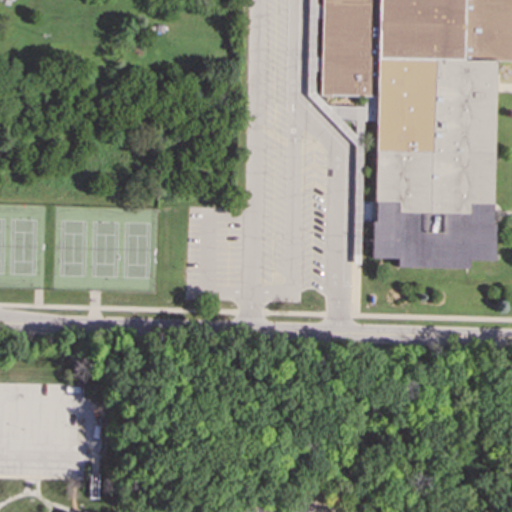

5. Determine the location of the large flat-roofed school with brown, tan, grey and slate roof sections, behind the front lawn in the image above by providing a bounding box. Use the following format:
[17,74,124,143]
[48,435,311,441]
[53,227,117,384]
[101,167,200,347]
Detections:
[372,0,512,273]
